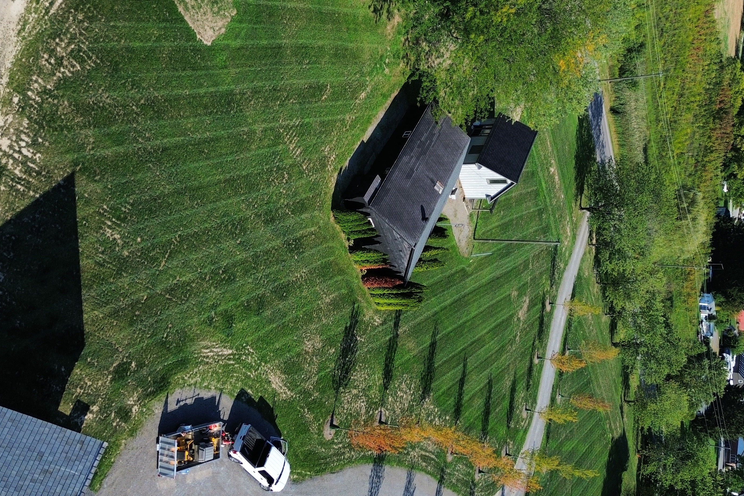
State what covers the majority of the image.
grass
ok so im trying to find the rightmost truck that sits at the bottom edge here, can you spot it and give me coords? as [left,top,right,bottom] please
[228,424,294,496]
